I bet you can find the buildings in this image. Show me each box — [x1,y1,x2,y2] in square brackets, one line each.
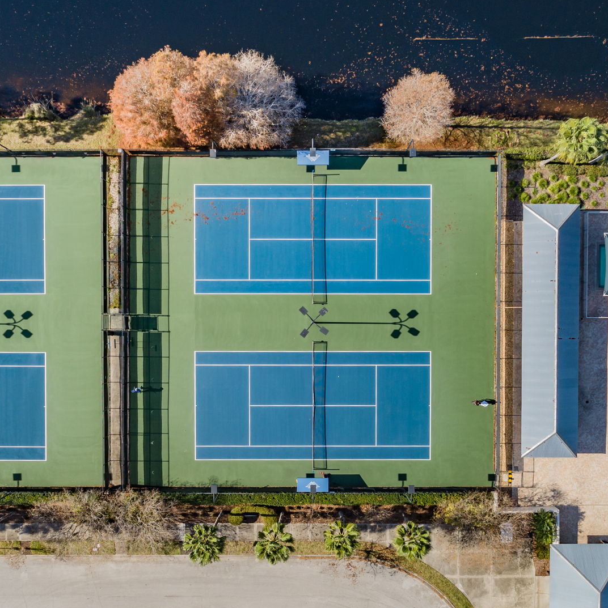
[549,543,608,608]
[522,203,581,458]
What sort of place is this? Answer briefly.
sports ground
